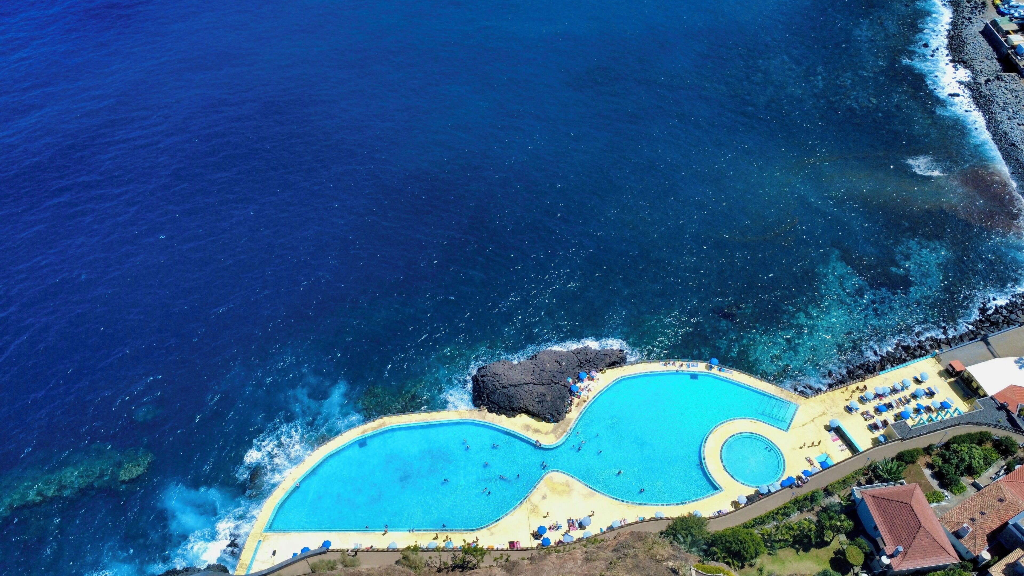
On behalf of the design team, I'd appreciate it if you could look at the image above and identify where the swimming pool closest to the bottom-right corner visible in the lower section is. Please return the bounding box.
[720,432,786,488]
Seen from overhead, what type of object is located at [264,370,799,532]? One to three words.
swimming pool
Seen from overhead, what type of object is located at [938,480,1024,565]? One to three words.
house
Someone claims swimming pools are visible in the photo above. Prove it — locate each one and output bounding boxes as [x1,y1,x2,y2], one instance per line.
[720,432,786,488]
[264,370,799,532]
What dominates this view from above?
water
